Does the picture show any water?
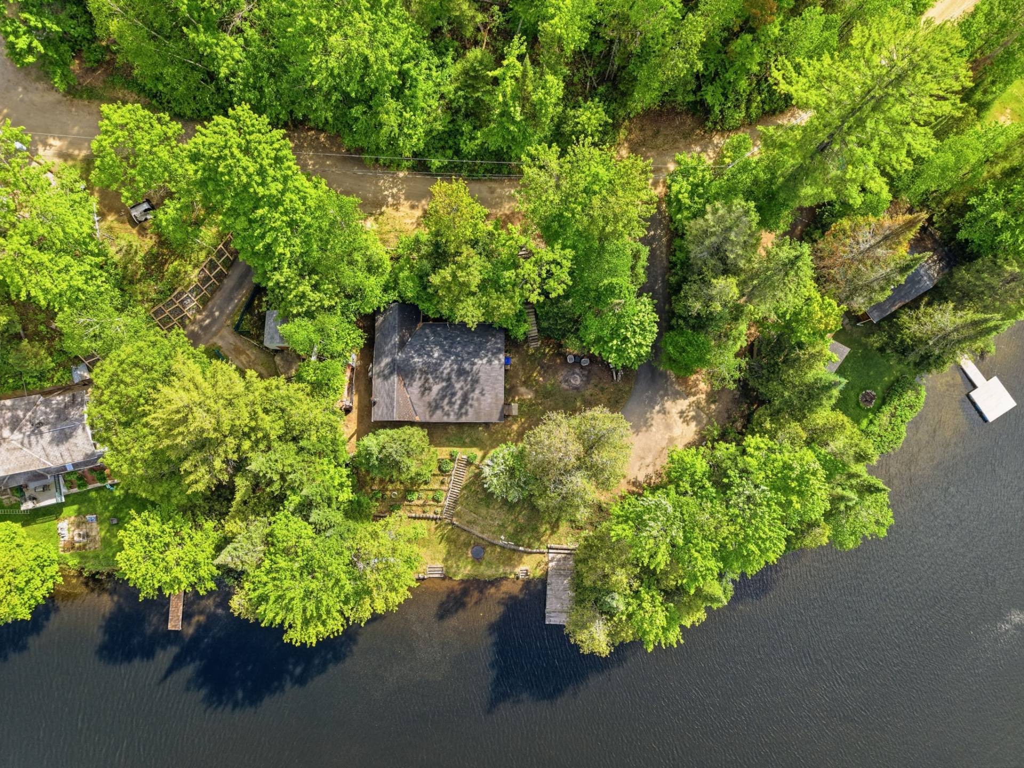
Yes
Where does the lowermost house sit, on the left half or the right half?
left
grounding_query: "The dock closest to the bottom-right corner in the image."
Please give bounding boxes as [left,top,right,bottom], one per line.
[968,376,1016,422]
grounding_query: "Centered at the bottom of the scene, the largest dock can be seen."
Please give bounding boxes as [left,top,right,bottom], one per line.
[543,556,574,625]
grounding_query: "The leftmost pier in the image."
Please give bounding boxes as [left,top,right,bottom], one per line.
[168,581,186,631]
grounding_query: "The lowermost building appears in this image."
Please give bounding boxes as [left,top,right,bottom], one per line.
[0,390,103,490]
